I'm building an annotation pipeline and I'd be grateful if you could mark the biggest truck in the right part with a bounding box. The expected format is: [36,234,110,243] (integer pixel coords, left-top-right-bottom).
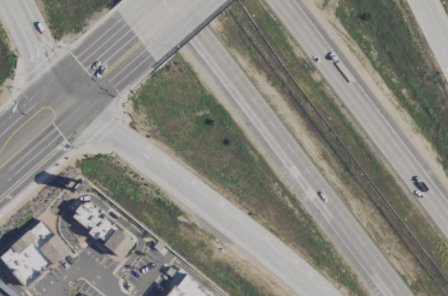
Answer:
[331,56,359,91]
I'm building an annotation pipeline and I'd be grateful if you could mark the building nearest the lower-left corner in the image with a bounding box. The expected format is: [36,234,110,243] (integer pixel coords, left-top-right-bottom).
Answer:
[0,220,70,287]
